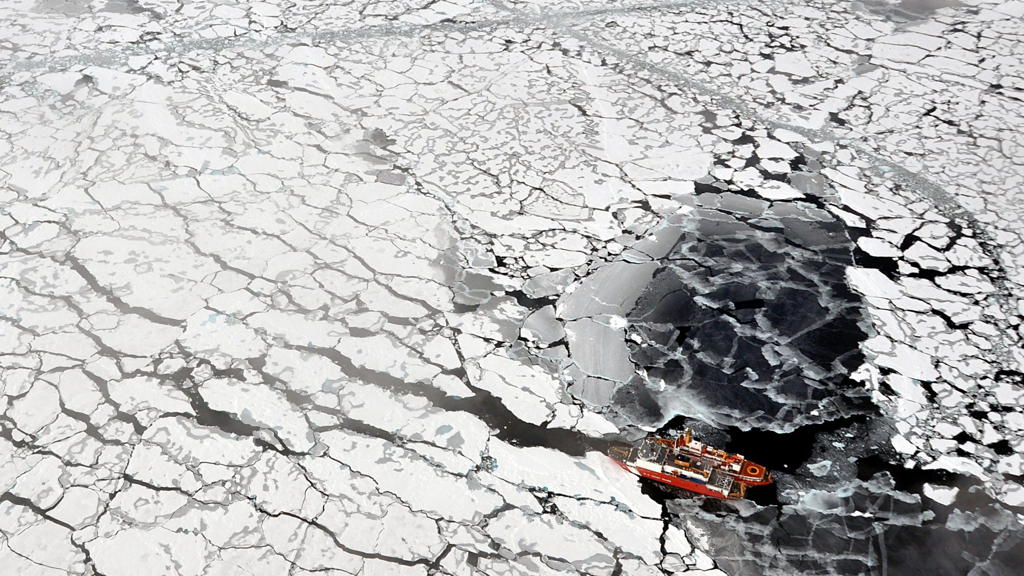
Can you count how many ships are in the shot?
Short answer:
2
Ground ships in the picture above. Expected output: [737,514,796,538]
[609,441,747,502]
[642,427,774,486]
